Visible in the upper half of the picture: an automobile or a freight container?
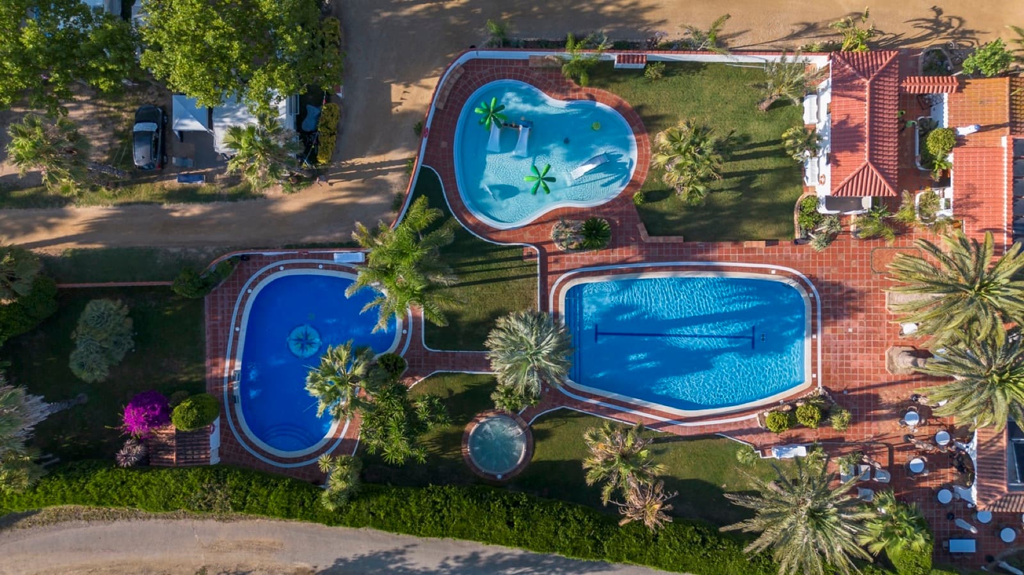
automobile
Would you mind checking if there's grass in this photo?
Yes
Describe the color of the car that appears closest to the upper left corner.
black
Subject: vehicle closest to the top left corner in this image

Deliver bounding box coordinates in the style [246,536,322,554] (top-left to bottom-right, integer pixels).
[130,107,168,171]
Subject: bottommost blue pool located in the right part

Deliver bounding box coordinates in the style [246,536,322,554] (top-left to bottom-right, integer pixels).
[549,262,821,426]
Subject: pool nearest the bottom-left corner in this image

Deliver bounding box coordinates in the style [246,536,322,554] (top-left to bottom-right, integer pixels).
[224,259,412,466]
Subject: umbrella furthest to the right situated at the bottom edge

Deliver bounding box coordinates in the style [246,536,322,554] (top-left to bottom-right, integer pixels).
[986,554,1021,575]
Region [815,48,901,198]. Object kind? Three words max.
building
